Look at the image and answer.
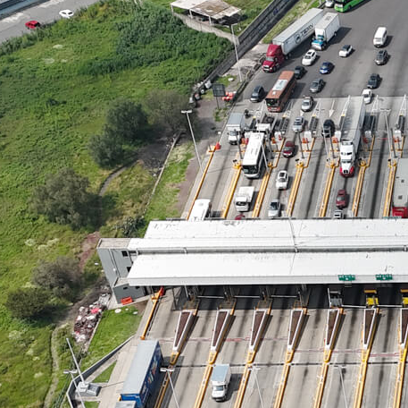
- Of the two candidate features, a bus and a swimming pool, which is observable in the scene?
bus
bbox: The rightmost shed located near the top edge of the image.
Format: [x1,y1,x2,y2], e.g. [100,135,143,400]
[167,0,240,28]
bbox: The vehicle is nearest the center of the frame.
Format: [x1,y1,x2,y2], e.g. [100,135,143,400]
[190,197,217,218]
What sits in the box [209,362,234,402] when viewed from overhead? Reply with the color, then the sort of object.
white truck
